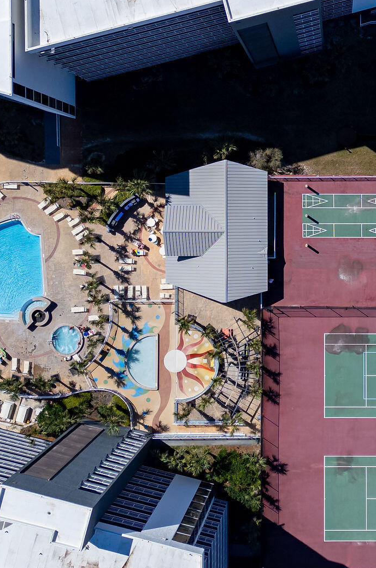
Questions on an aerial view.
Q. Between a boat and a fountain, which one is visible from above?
fountain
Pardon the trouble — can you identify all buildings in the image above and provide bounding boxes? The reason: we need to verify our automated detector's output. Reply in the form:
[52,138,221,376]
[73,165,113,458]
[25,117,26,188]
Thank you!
[162,160,275,302]
[0,0,376,118]
[0,427,227,568]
